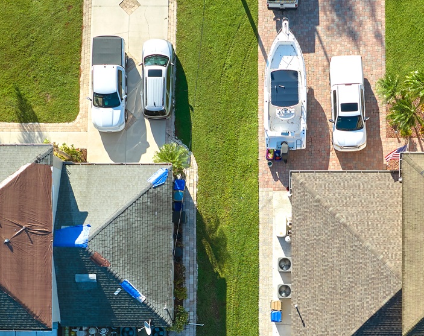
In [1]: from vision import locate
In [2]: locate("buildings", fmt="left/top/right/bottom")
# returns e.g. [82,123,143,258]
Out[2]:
[287,150,424,336]
[0,141,174,332]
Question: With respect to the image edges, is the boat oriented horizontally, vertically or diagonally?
vertically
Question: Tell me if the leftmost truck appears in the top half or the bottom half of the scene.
top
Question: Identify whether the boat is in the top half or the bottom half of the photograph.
top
